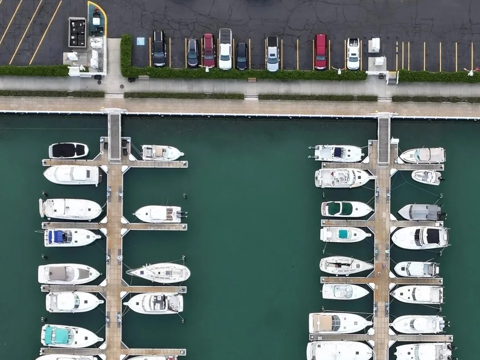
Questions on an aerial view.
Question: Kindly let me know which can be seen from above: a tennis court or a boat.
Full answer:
The image shows a boat.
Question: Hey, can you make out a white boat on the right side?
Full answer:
Yes, a white boat can be seen on the right side.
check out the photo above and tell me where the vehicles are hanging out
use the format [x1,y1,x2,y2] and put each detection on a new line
[152,31,166,67]
[218,28,233,69]
[346,38,361,69]
[266,36,280,70]
[314,34,328,69]
[202,34,216,68]
[235,42,249,70]
[186,38,200,67]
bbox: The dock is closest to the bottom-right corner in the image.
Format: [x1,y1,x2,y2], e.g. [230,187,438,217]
[388,325,454,351]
